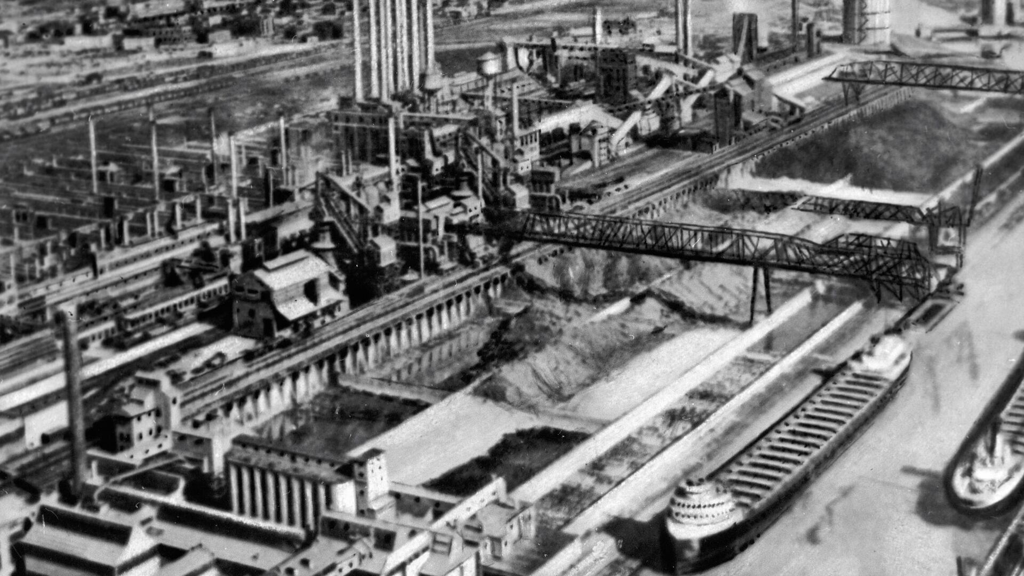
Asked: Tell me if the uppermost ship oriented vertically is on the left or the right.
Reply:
right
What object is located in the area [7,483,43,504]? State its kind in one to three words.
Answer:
shed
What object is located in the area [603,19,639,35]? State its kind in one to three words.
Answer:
building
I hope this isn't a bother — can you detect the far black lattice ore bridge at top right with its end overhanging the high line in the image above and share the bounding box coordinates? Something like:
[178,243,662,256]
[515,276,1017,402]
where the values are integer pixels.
[826,60,1024,99]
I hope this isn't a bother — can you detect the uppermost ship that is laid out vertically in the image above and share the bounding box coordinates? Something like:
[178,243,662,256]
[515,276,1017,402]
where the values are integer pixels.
[941,329,1024,521]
